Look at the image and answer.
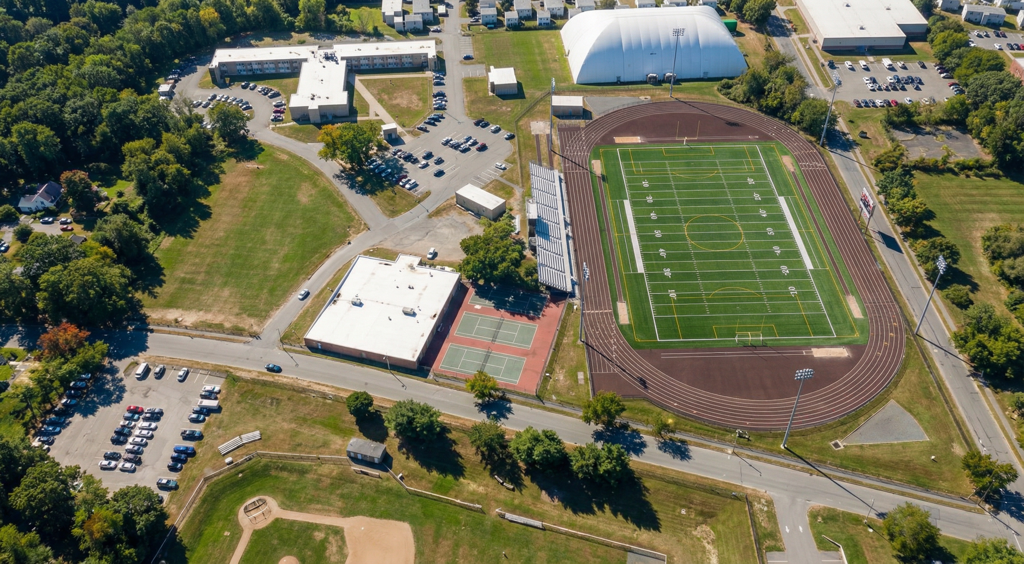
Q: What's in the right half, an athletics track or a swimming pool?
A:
athletics track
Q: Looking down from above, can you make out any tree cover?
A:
Yes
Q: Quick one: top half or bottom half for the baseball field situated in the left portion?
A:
bottom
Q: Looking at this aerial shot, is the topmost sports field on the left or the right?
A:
right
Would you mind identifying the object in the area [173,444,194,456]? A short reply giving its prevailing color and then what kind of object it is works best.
blue vehicle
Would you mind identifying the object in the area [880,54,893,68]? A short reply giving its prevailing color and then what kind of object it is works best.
white vehicle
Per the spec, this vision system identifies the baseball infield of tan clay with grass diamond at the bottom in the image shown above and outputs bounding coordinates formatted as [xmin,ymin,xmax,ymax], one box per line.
[229,497,414,564]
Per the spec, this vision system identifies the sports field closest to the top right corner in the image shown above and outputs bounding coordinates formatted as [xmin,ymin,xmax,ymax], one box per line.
[590,142,869,350]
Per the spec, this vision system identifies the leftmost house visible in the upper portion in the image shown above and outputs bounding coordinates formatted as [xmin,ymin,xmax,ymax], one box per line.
[31,179,59,211]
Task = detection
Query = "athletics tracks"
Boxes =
[558,100,906,429]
